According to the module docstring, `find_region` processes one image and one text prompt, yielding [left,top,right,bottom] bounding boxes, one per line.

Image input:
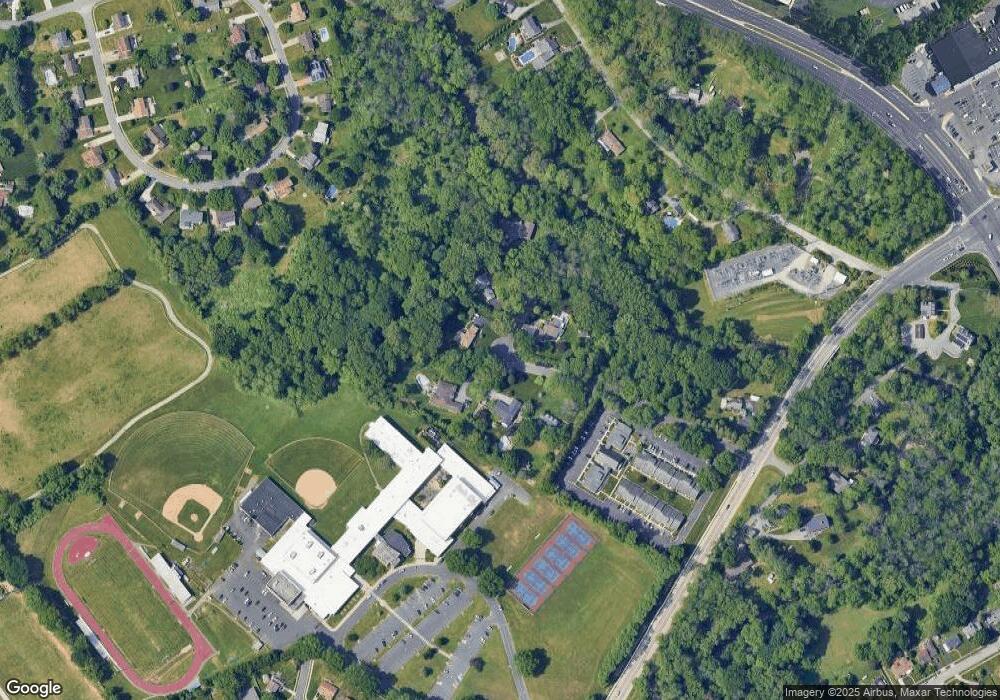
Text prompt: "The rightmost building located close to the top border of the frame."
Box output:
[932,21,1000,95]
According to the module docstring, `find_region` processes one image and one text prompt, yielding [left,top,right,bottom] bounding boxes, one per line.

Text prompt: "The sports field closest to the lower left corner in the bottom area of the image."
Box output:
[61,532,201,690]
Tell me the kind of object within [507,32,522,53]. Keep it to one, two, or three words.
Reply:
swimming pool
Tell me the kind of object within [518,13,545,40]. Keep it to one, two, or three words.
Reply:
house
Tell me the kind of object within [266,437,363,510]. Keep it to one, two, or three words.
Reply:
baseball field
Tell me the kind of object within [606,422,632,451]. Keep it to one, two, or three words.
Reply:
house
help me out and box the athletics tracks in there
[51,509,223,699]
